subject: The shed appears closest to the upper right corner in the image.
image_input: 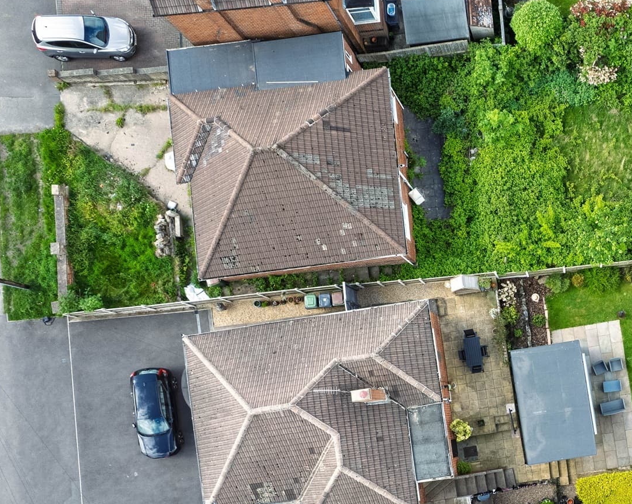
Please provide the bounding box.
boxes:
[470,0,498,44]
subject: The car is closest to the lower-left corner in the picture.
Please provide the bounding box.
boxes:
[133,369,184,456]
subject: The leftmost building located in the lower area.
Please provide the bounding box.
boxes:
[180,298,464,504]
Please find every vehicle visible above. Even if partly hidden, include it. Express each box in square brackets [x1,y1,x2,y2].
[38,17,134,66]
[133,369,184,456]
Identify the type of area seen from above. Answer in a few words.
residential area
